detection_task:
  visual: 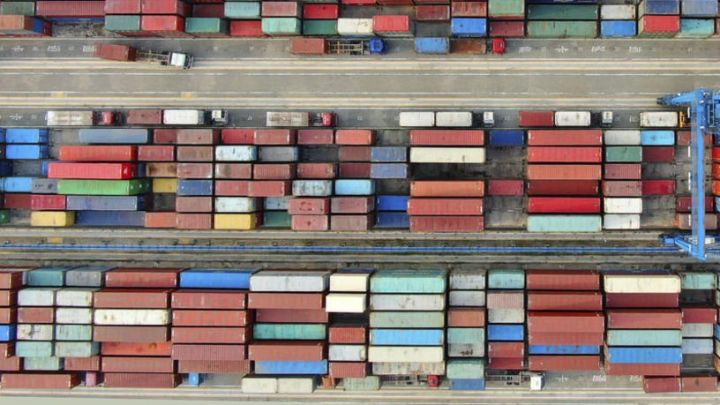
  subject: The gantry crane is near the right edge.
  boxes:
[658,86,720,262]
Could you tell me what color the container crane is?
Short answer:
blue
